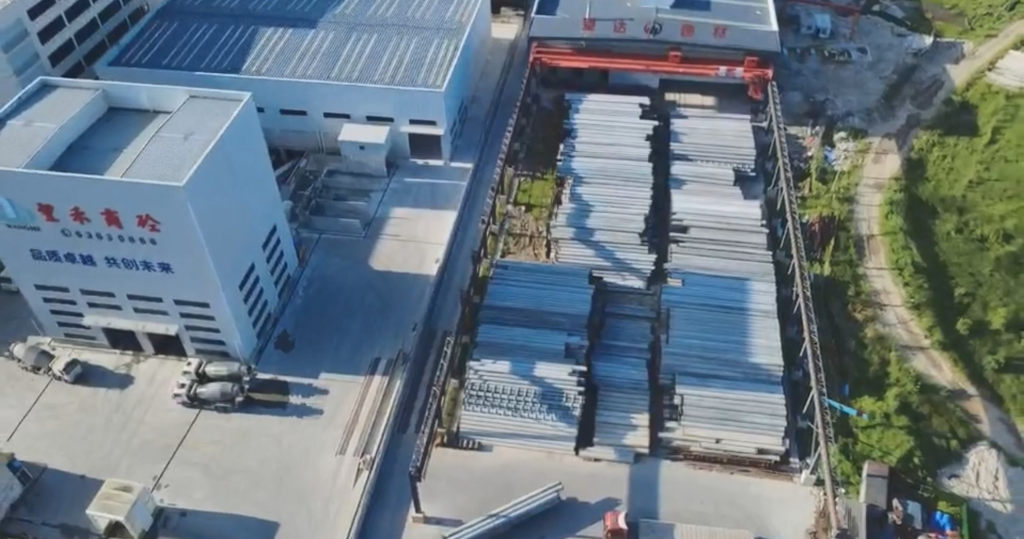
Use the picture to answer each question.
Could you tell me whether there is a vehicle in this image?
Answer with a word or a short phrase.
Yes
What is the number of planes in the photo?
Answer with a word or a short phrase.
none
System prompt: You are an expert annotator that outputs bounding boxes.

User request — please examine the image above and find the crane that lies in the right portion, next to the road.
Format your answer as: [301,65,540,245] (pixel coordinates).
[521,48,782,113]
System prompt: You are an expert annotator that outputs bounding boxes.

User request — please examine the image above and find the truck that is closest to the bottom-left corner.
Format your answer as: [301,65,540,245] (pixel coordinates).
[1,336,85,384]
